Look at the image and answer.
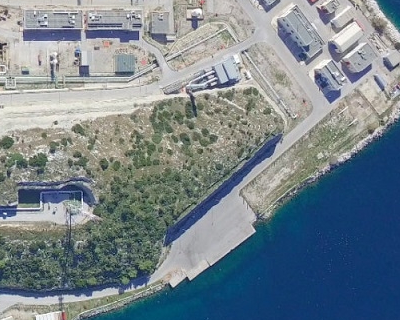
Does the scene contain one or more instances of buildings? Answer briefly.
Yes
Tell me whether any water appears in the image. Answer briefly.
Yes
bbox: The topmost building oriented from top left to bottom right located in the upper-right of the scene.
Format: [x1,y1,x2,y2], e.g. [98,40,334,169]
[273,6,325,54]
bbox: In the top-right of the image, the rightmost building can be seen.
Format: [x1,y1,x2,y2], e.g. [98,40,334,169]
[379,47,400,70]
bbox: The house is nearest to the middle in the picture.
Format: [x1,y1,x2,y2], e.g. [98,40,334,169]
[188,57,242,96]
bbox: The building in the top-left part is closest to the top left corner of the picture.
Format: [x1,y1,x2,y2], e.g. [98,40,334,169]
[22,11,83,31]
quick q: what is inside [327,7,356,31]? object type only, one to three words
building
